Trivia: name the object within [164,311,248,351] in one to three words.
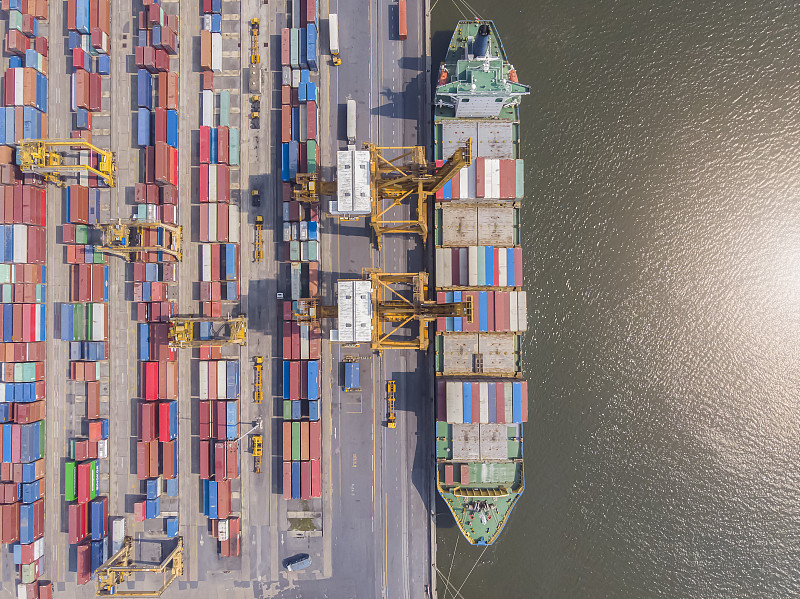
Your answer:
container crane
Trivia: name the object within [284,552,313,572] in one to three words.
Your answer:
vehicle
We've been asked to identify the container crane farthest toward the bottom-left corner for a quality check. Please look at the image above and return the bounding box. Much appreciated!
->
[93,535,184,599]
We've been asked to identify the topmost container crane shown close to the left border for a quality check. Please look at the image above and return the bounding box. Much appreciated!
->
[15,134,117,189]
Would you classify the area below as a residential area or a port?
port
